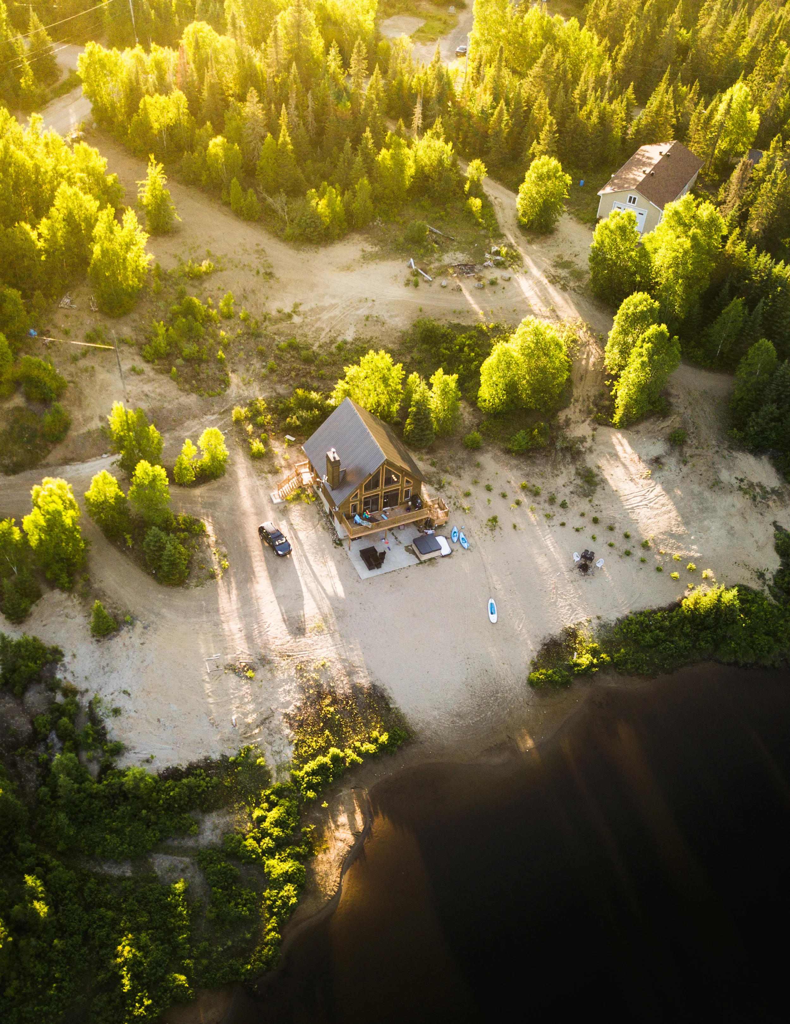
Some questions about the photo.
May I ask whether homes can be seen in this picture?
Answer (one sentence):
Yes, the image includes a home.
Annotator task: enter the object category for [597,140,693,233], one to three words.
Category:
building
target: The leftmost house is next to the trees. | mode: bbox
[277,396,449,552]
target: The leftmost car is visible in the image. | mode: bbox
[257,518,293,554]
